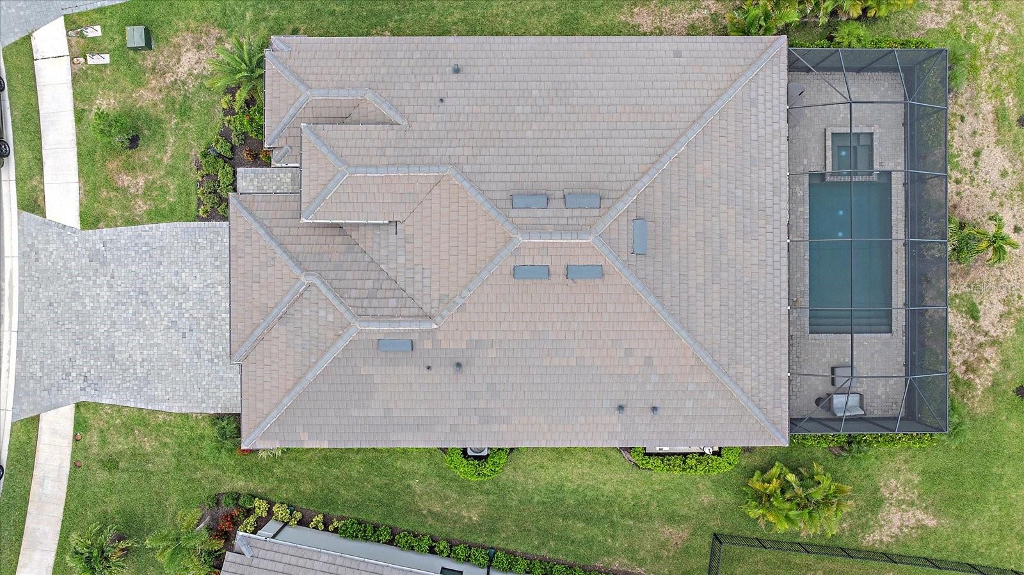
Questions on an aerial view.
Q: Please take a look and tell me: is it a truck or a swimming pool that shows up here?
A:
swimming pool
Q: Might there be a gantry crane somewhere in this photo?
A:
No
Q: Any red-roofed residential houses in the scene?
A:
No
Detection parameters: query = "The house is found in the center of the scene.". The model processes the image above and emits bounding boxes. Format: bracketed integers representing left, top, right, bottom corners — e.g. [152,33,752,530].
[226,33,789,450]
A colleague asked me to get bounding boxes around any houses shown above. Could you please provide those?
[226,33,789,450]
[219,517,513,575]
